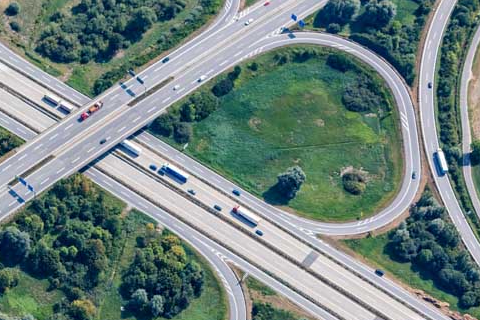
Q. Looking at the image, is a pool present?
No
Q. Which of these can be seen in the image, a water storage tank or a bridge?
bridge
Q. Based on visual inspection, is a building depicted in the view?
No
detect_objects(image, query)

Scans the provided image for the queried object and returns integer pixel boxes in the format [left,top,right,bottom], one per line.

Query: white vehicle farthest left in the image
[45,94,73,113]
